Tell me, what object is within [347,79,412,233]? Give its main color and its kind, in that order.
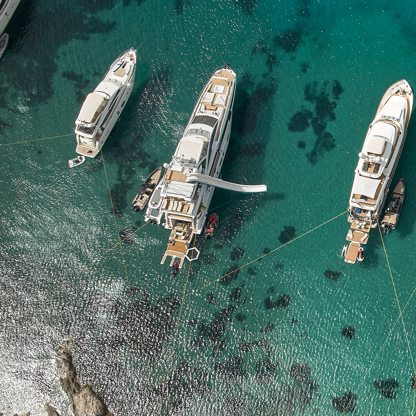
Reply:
white boat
